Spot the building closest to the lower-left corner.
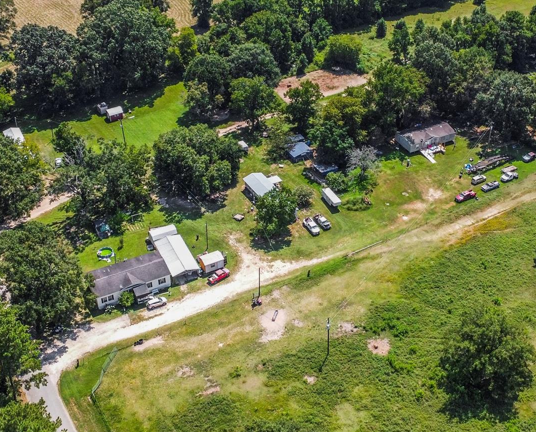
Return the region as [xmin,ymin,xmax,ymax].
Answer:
[88,256,171,309]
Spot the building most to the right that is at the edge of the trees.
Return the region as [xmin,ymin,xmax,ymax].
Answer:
[397,121,457,160]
